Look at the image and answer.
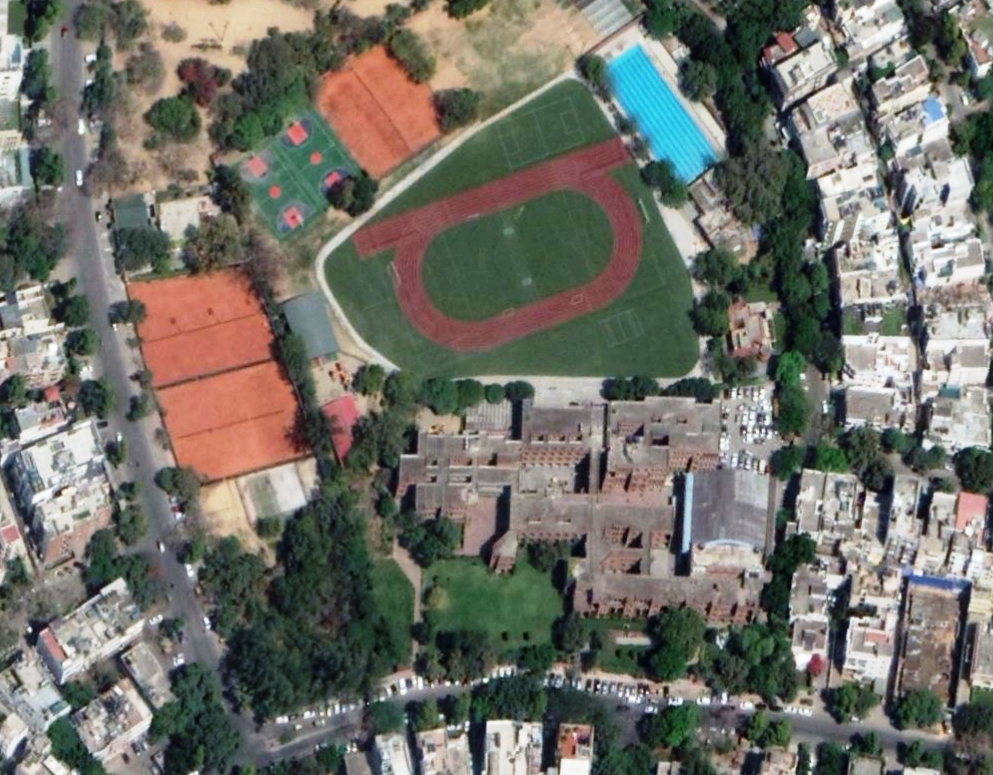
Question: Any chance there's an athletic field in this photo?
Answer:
Yes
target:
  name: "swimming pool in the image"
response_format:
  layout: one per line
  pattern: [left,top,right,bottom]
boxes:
[595,14,733,193]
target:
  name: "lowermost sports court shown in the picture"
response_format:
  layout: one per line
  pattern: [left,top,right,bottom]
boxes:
[239,464,303,524]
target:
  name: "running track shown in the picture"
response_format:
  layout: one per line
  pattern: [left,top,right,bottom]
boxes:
[352,137,643,347]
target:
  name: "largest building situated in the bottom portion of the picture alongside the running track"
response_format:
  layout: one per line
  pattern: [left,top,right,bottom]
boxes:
[395,398,774,625]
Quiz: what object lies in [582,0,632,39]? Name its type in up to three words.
shed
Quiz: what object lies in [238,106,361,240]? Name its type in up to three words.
basketball court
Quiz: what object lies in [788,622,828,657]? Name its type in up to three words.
house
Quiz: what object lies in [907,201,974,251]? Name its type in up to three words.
house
